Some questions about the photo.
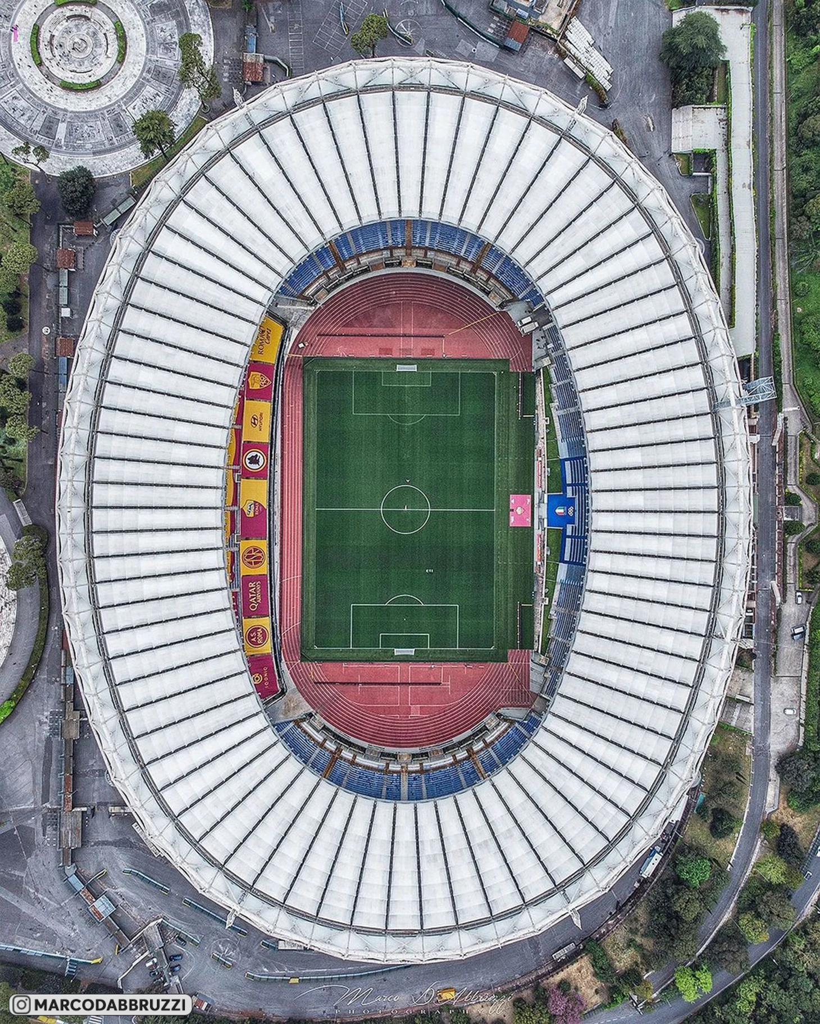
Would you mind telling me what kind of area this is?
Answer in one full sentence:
What you see here is a sports ground.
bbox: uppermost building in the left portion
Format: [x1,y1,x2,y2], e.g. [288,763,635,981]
[242,53,265,86]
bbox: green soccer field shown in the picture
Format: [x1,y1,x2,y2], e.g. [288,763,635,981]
[302,358,534,663]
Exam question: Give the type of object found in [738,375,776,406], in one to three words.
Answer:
bridge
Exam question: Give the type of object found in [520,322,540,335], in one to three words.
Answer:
vehicle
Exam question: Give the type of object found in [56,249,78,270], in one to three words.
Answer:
building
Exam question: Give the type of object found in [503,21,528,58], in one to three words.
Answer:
building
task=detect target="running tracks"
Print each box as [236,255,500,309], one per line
[281,273,537,748]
